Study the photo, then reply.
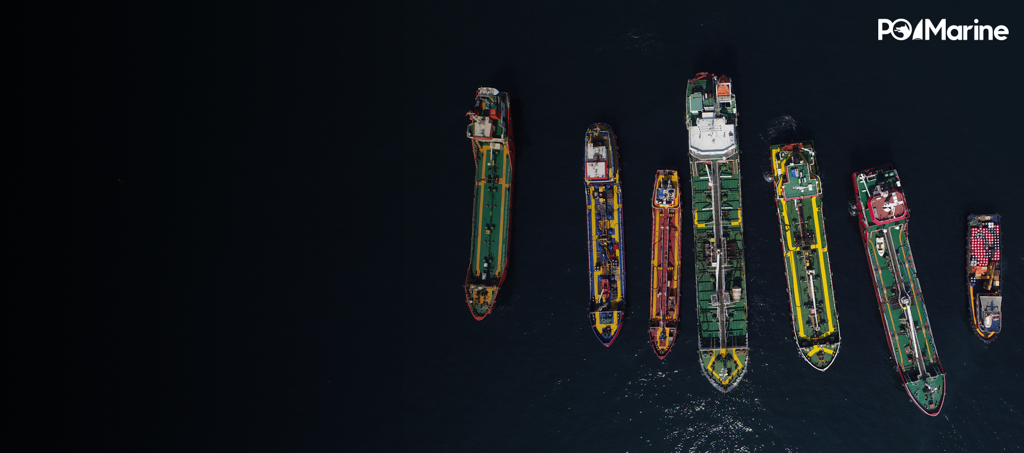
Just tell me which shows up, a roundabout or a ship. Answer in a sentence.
Looking from above, you can make out a ship.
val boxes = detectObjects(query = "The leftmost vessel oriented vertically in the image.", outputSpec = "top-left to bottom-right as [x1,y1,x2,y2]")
[462,86,515,321]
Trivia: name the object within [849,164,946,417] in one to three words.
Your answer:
ship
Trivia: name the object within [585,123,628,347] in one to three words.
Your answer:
ship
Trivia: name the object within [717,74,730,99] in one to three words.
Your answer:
boat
